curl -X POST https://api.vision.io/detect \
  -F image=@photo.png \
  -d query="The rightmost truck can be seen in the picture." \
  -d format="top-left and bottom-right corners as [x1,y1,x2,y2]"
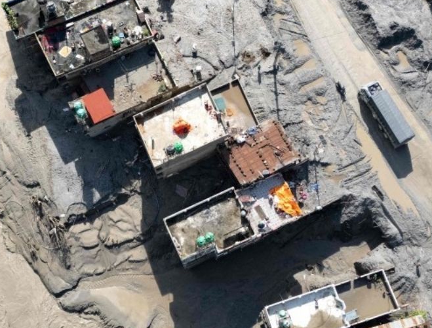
[356,80,417,152]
